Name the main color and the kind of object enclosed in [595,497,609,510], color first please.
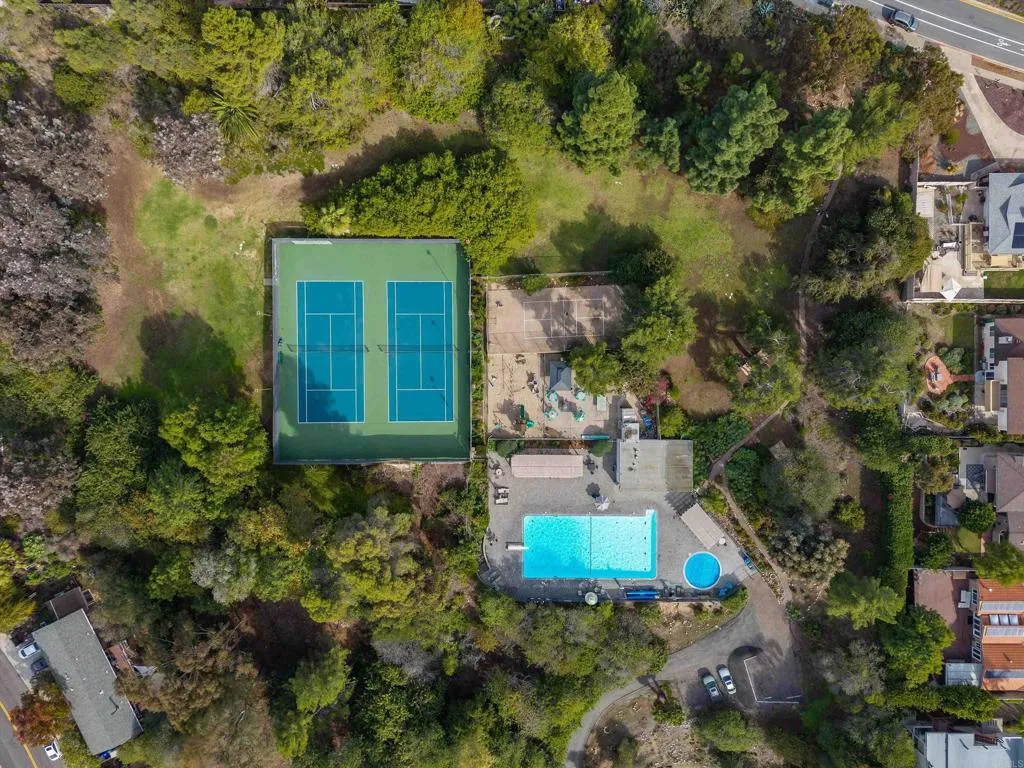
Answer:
white umbrella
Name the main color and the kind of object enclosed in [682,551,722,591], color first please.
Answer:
blue swimming pool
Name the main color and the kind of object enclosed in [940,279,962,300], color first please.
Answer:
white umbrella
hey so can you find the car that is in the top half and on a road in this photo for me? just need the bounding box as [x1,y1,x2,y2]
[891,7,920,29]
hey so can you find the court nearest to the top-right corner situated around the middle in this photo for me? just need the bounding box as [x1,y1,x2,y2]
[487,284,625,352]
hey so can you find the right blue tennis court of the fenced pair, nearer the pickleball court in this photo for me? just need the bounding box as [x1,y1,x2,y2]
[375,242,469,461]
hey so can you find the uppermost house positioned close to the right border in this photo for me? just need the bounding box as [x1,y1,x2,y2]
[978,174,1024,255]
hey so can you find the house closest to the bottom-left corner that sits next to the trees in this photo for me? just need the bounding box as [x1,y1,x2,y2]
[32,583,145,754]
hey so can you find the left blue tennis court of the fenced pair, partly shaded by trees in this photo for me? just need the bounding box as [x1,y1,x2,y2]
[278,243,376,461]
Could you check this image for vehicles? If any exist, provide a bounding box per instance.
[24,657,49,676]
[718,667,738,696]
[39,738,61,765]
[702,673,725,702]
[13,641,41,661]
[891,7,920,29]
